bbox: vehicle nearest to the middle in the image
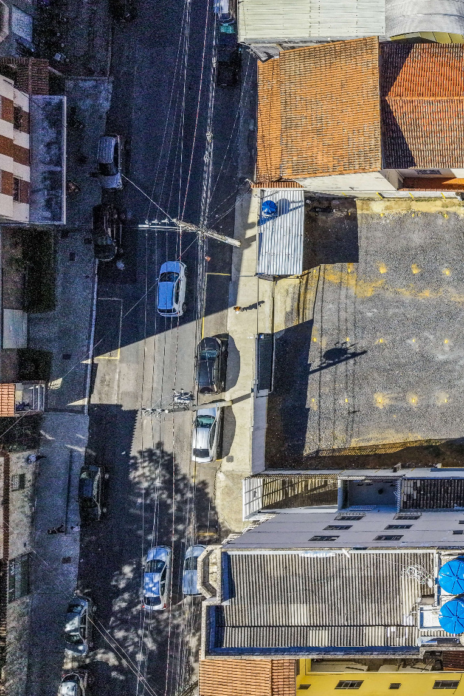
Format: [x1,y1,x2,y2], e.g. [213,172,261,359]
[200,335,230,395]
